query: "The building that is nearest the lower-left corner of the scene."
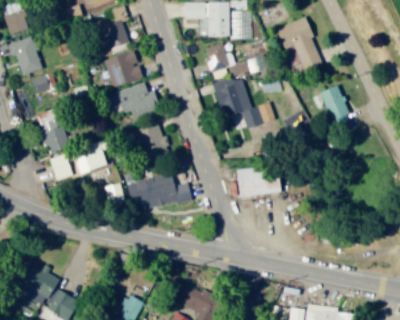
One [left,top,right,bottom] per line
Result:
[31,268,77,320]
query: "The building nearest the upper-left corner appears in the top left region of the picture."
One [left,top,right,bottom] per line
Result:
[5,2,29,37]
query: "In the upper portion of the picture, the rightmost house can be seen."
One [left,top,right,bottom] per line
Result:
[321,84,352,120]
